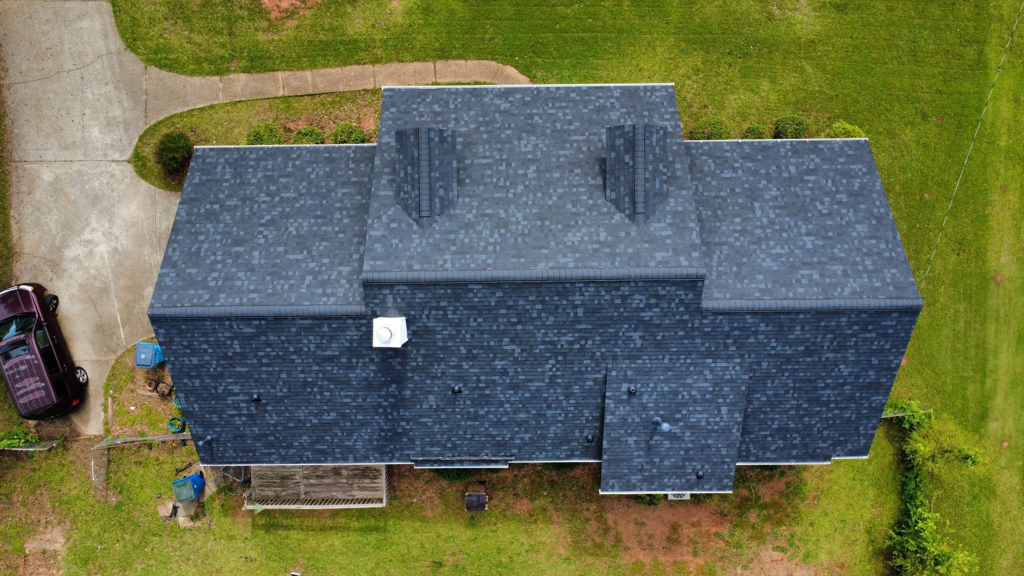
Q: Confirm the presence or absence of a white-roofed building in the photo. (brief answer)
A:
No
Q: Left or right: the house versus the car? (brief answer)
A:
to the right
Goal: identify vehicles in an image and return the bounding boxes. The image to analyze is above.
[0,282,91,422]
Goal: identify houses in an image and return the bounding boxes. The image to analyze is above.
[147,80,925,494]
